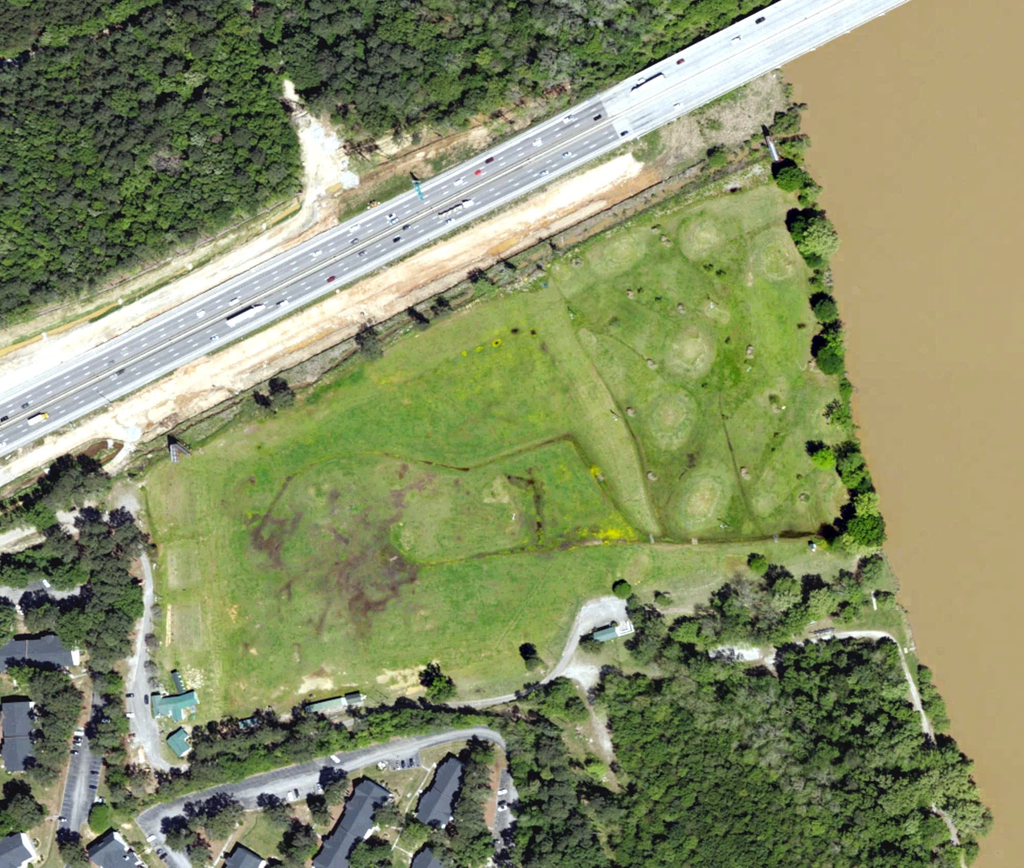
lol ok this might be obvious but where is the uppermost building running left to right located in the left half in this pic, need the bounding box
[0,634,80,673]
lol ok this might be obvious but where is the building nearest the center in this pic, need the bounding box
[594,621,633,643]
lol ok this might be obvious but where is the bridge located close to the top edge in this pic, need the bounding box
[595,0,910,146]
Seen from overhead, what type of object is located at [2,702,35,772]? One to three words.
building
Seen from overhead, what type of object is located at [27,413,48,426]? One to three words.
vehicle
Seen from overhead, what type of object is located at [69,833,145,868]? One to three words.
building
